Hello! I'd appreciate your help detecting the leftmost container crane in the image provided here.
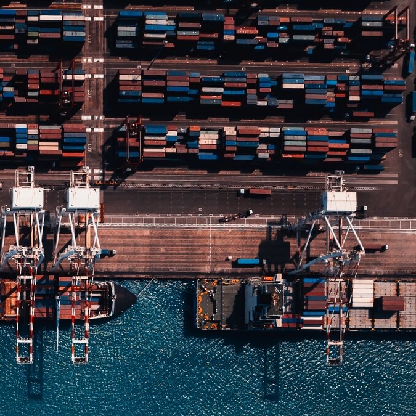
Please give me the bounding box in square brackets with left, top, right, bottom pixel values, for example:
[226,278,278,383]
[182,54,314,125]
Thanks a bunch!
[0,163,50,364]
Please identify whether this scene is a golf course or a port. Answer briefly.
port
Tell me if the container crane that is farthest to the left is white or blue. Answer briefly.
white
